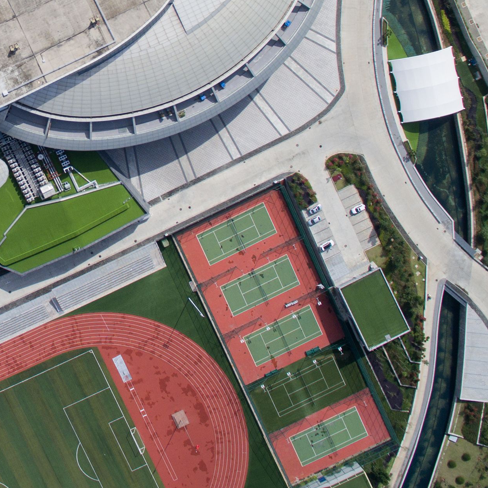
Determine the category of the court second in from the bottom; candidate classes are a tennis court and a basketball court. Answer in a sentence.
What you see as the court second in from the bottom is a tennis court.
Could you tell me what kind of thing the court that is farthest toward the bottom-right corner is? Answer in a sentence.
What you see as the court that is farthest toward the bottom-right corner is a tennis court.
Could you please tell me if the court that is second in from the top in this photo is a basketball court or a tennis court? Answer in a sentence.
The court that is second in from the top appears to be a tennis court.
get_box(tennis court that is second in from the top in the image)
[219,255,299,317]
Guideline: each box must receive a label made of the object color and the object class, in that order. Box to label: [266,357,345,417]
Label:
green tennis court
